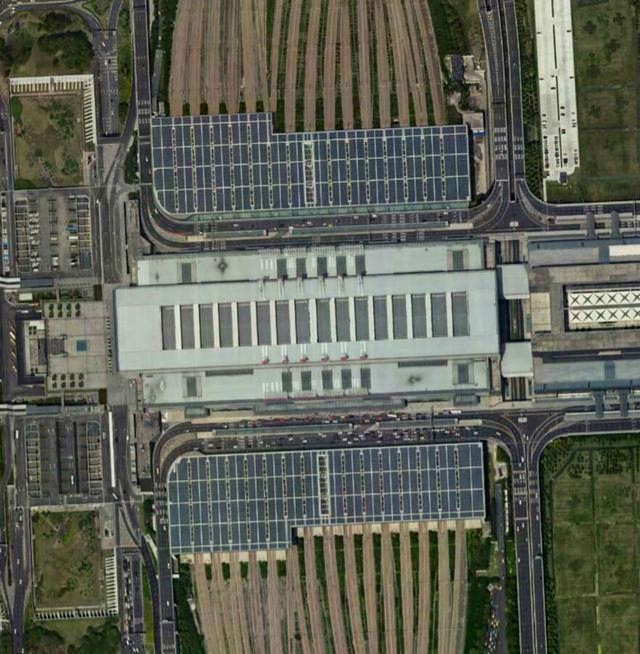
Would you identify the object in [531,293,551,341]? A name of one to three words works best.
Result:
building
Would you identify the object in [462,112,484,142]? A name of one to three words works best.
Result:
building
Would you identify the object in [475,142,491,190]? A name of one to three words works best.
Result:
shed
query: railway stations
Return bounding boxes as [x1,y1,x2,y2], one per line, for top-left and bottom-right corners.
[113,239,501,406]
